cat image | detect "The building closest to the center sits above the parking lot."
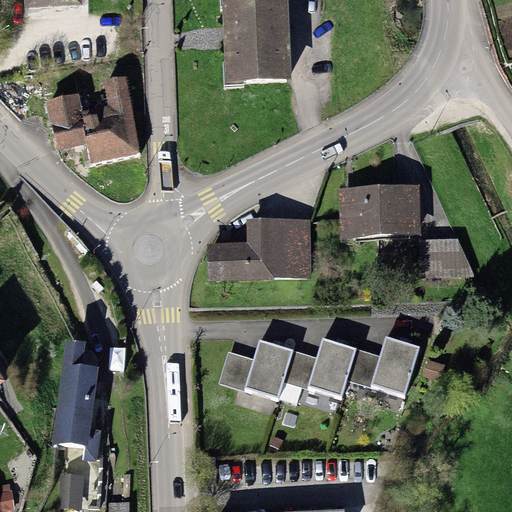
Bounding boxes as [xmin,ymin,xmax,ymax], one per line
[208,218,311,284]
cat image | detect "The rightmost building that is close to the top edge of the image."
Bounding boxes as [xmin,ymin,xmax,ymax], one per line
[219,0,292,91]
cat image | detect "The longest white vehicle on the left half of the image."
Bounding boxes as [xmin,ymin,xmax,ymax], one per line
[164,362,181,425]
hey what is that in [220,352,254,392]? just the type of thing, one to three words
building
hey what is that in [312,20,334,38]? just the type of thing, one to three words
car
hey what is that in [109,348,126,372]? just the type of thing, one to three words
gazebo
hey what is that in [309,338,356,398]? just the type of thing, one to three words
house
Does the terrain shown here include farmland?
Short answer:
No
